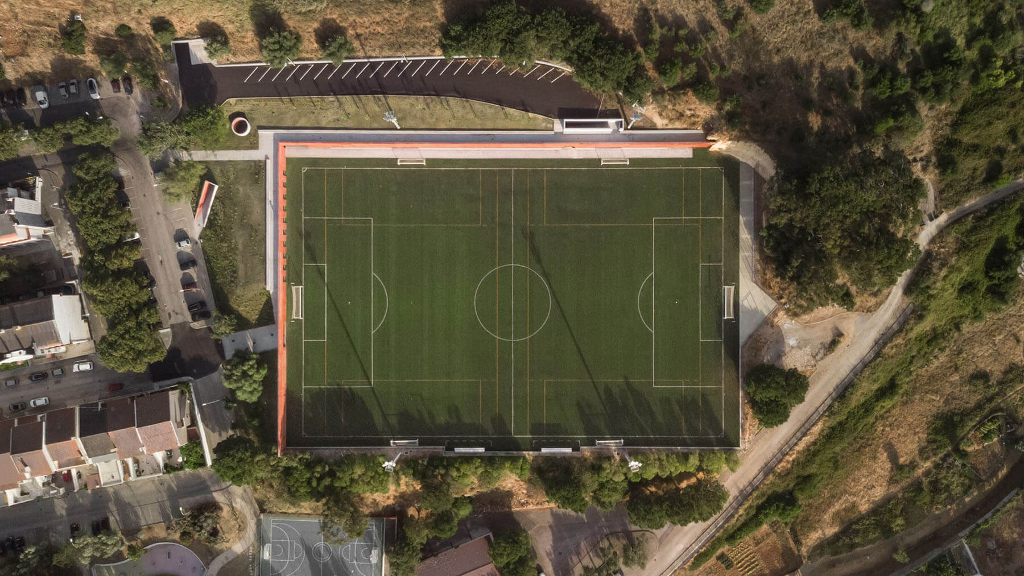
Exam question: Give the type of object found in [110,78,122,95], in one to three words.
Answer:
vehicle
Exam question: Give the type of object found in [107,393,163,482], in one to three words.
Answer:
house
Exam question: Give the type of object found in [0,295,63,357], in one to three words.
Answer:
house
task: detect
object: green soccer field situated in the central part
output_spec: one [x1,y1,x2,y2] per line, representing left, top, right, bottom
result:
[284,147,740,452]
